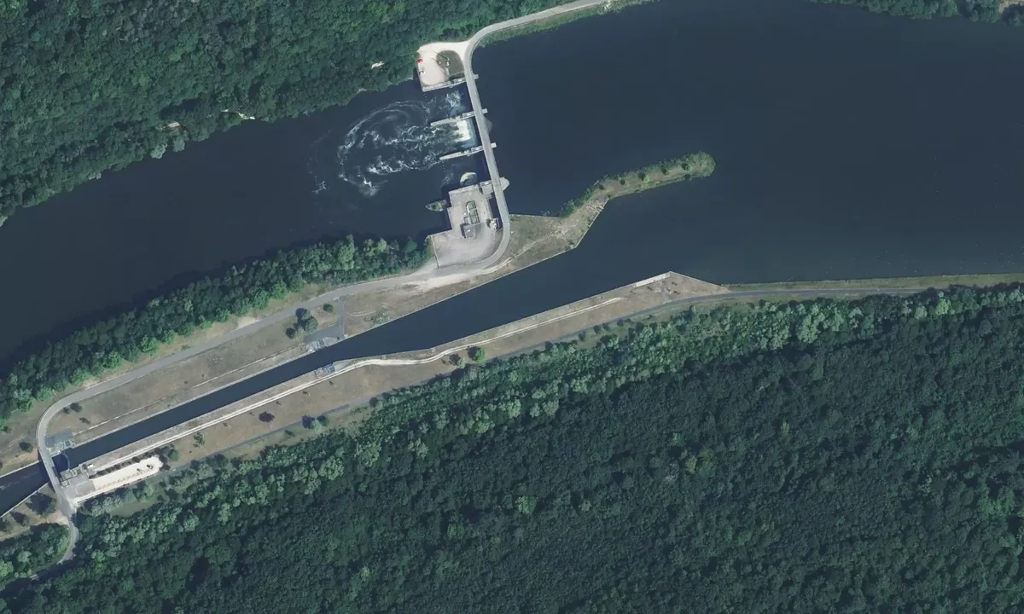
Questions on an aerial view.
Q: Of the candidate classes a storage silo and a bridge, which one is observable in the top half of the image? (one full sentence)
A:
Visible in the top half of the image is a bridge.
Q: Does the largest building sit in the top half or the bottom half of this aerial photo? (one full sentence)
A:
The top half of the photo is where the largest building is.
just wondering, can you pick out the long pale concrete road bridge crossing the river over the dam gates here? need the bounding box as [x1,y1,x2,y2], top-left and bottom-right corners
[464,70,511,235]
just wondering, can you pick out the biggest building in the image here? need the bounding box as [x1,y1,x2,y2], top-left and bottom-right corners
[447,180,494,231]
